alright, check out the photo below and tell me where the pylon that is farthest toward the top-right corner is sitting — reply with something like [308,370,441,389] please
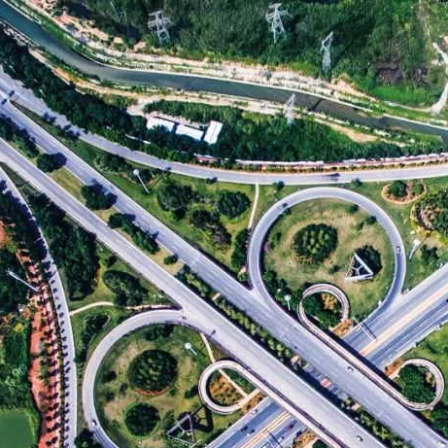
[321,27,333,77]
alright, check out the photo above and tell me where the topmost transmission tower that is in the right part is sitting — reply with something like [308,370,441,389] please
[262,0,285,45]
